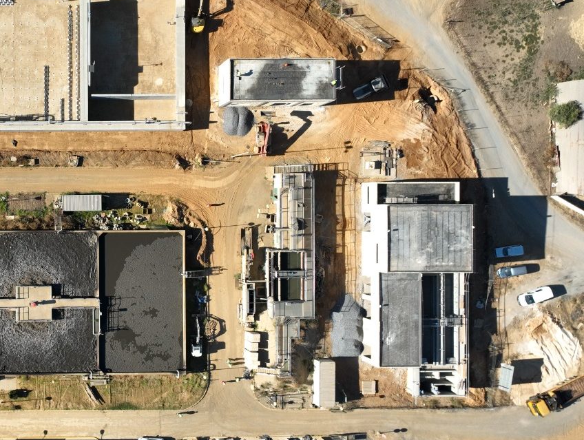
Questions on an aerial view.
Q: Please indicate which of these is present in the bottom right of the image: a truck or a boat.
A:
truck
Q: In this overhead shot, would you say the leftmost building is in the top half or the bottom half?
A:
top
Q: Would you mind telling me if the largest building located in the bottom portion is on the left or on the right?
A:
right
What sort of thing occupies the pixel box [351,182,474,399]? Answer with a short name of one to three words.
building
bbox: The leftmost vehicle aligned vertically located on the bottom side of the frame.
[188,320,202,356]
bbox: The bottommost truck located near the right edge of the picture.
[515,366,584,417]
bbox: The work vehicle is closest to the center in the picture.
[251,114,274,156]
